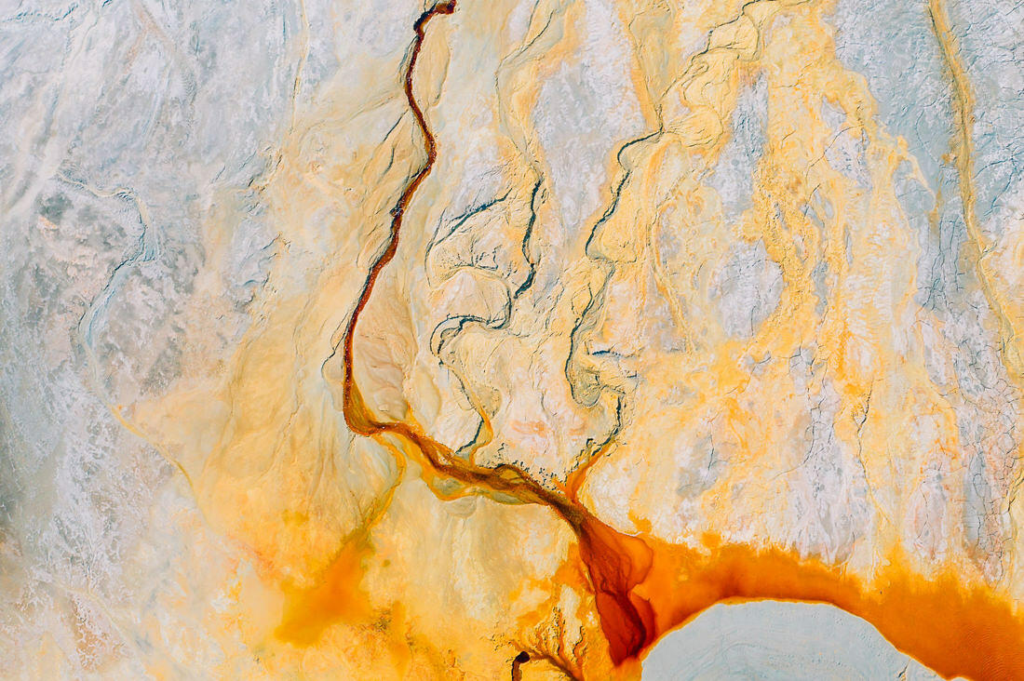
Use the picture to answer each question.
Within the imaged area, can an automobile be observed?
No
